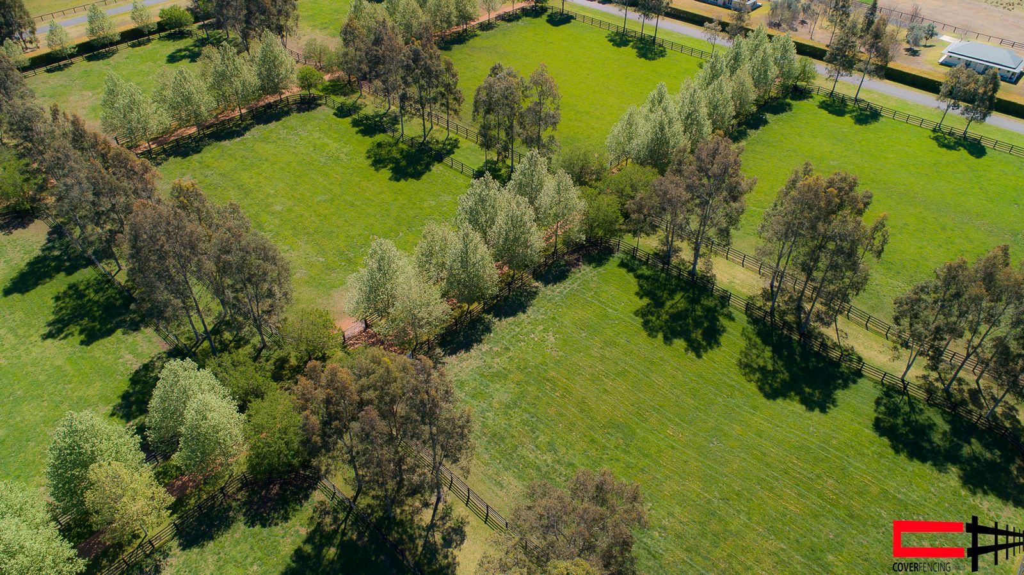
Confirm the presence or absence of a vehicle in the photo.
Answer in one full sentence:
No, the frame has no vehicle in it.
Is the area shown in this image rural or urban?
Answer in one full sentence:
This place is rural.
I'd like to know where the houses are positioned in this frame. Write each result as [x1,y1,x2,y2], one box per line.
[937,35,1024,84]
[699,0,758,11]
